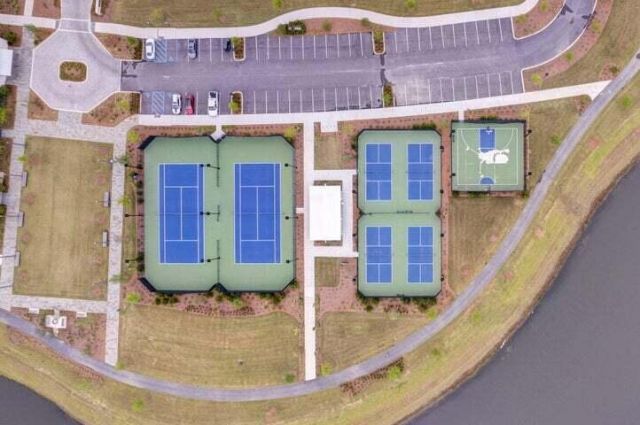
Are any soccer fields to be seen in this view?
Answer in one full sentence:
No, there is no soccer field in the image.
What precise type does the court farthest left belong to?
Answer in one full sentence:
It looks like the court farthest left is a tennis court.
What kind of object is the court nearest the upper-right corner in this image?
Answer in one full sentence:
The court nearest the upper-right corner in the image is a basketball court.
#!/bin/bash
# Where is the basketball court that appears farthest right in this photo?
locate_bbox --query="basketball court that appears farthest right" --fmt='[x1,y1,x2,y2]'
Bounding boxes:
[452,122,524,190]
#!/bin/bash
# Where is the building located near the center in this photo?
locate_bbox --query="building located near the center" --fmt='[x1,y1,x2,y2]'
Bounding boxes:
[309,184,342,243]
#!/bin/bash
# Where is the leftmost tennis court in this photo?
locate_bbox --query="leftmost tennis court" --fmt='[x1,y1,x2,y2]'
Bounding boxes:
[144,136,218,291]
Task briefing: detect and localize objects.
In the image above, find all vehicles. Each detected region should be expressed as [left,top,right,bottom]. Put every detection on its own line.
[224,39,233,52]
[145,38,156,59]
[209,90,221,116]
[171,93,183,114]
[188,38,199,58]
[184,93,196,114]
